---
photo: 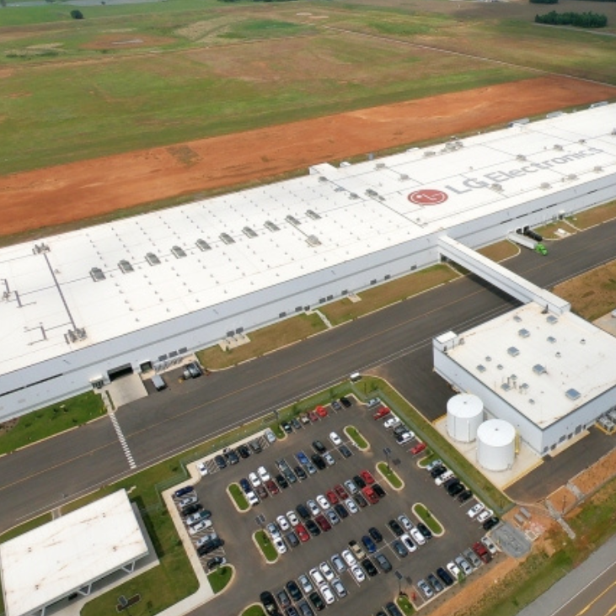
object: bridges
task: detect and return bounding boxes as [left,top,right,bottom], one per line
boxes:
[435,235,572,317]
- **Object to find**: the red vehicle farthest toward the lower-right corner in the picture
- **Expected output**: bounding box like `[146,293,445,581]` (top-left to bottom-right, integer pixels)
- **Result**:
[471,541,492,563]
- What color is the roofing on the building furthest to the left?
white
